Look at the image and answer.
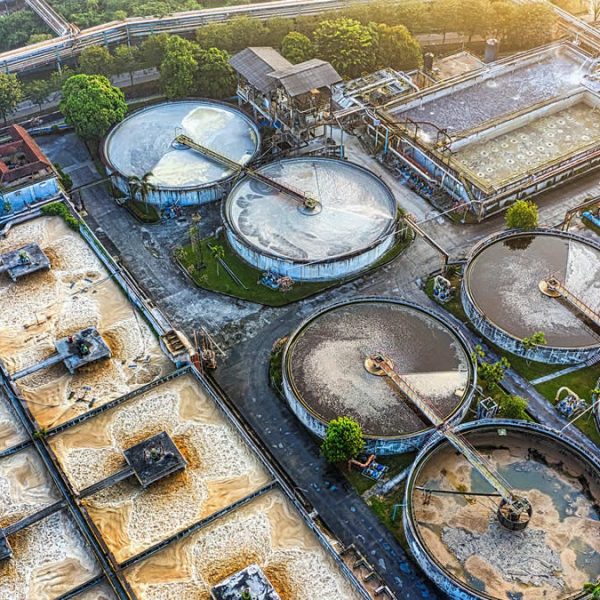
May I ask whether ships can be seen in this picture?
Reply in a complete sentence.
No, the frame has no ship in it.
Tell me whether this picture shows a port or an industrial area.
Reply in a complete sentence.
The area seen from above is an industrial area.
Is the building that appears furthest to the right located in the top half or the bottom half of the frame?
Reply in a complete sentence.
The top half of the photo is where the building that appears furthest to the right is.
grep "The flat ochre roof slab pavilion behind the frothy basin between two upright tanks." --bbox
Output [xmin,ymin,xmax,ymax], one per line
[432,47,488,81]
